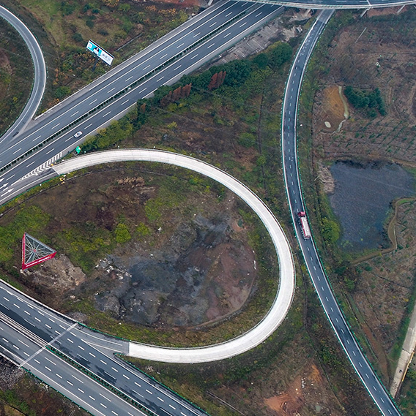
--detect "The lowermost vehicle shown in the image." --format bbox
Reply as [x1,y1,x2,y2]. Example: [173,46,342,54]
[298,210,311,239]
